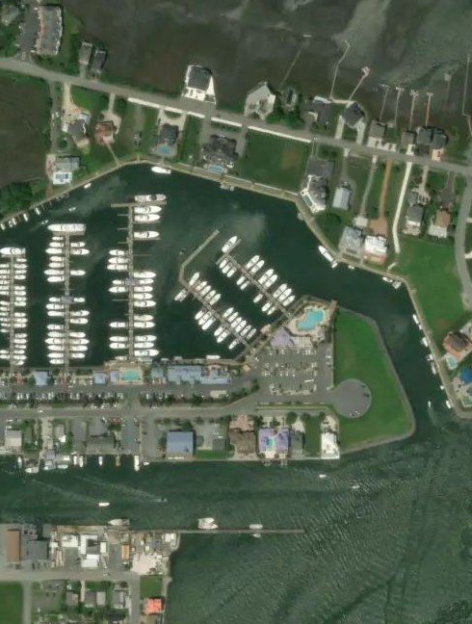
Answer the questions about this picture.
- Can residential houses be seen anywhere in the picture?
Yes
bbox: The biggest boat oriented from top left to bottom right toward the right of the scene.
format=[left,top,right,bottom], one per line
[320,245,336,266]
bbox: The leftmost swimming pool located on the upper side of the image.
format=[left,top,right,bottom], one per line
[154,145,177,157]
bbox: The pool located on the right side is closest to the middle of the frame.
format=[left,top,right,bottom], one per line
[288,302,329,338]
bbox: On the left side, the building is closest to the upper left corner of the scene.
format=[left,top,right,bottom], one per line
[0,5,21,26]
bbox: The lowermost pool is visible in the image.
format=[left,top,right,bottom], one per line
[265,439,279,458]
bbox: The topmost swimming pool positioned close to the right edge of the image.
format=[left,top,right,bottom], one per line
[444,355,457,370]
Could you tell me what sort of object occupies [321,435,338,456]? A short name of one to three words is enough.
house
